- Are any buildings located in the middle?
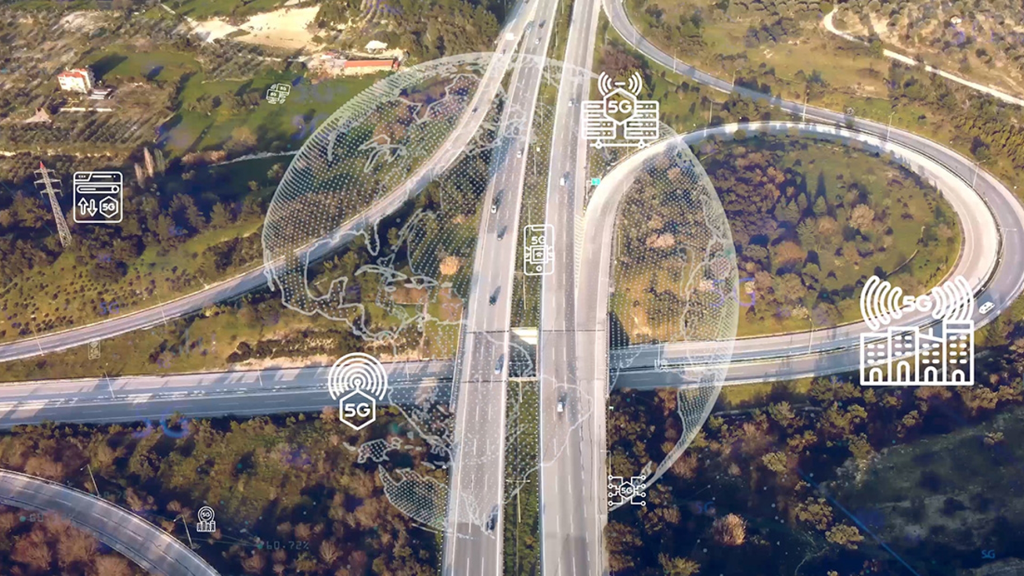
No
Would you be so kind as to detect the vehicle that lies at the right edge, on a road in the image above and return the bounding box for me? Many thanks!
[980,298,995,311]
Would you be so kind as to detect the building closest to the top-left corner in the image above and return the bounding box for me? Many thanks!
[58,61,102,92]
